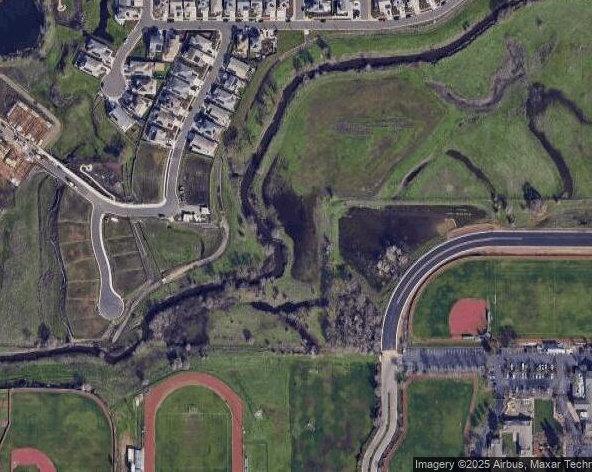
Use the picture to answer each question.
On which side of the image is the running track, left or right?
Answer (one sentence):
It is on the left.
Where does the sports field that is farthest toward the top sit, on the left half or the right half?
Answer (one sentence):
You can find the sports field that is farthest toward the top on the right side of the picture.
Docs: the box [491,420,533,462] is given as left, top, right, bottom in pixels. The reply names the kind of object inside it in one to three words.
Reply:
building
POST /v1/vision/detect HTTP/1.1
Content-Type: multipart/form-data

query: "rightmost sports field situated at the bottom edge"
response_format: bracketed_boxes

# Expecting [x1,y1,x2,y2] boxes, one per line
[392,374,477,472]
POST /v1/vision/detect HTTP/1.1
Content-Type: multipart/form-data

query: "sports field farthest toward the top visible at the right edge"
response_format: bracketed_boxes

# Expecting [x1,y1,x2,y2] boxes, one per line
[411,254,592,341]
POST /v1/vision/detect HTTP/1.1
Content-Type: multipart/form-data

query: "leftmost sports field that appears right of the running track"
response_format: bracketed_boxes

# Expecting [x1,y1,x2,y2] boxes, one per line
[291,362,378,472]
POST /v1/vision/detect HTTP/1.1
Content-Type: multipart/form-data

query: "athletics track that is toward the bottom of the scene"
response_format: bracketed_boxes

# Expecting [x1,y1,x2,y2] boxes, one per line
[145,372,243,472]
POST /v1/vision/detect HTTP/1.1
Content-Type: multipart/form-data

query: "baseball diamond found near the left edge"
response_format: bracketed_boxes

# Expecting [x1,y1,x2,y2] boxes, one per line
[0,388,115,472]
